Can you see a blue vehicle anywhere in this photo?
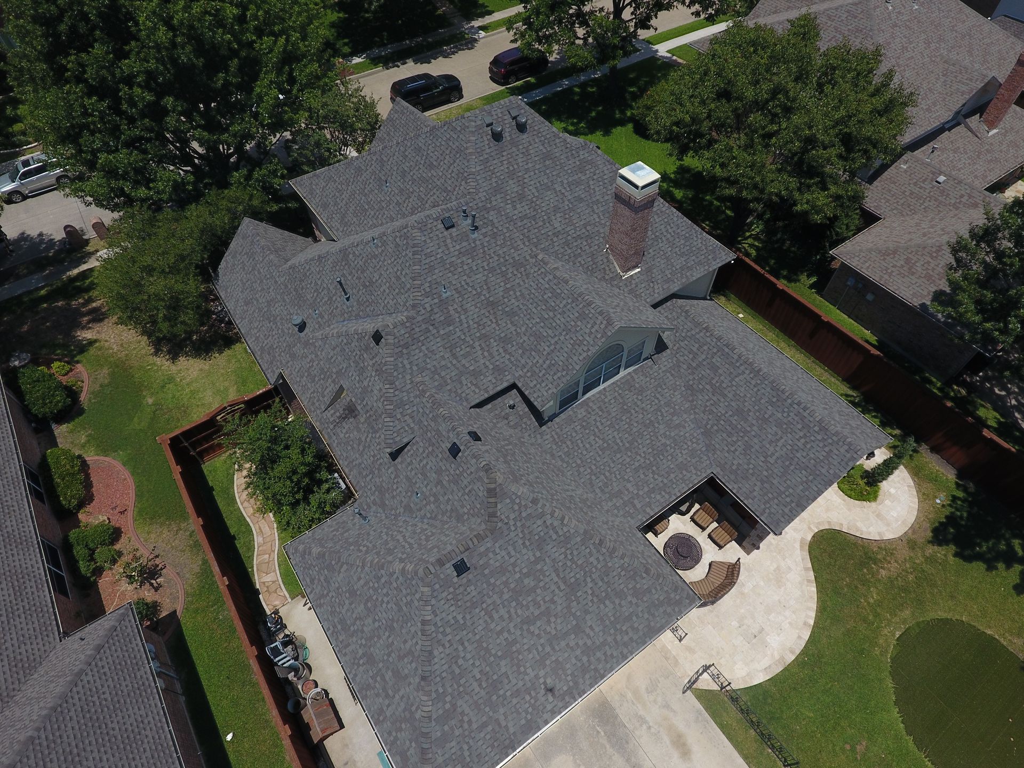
No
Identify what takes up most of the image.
buildings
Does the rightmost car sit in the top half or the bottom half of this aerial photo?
top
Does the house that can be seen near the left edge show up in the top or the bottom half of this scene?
bottom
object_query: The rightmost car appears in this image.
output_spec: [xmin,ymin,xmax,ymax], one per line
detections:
[496,45,554,82]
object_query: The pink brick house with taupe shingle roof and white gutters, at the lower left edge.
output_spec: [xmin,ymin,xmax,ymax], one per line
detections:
[0,358,207,768]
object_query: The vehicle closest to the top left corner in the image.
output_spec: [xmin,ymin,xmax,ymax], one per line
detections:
[0,148,82,203]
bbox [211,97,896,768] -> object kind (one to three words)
house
